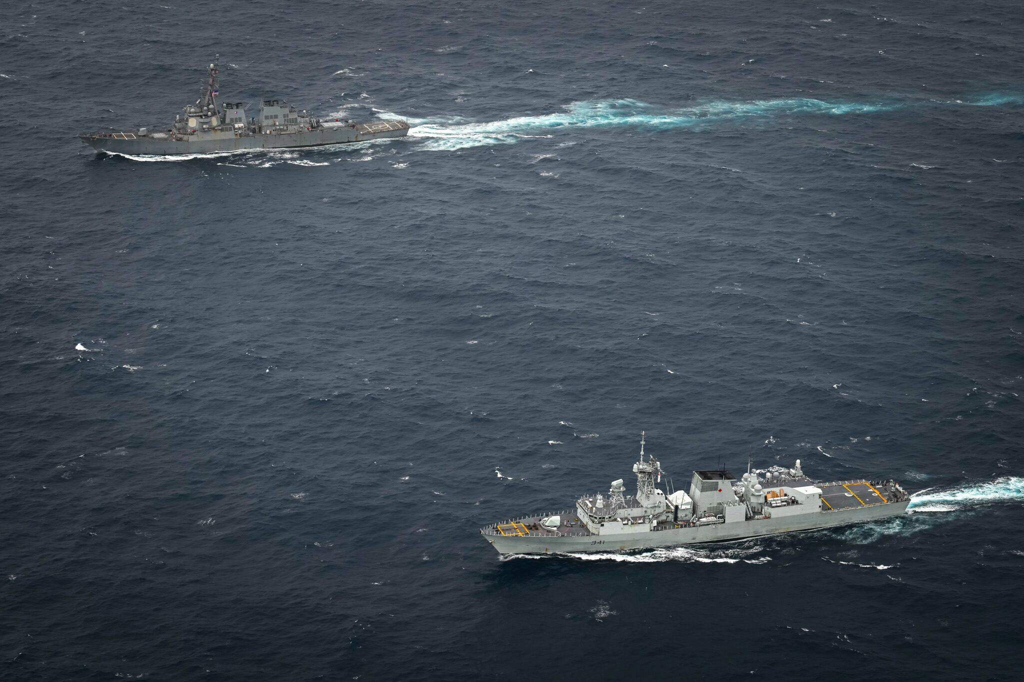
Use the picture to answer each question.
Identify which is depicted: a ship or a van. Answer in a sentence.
Visible in the photo is a ship.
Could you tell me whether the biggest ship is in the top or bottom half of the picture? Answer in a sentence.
The bottom half of the photo is where the biggest ship is.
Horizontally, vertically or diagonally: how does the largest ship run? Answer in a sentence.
Seen from above, the largest ship lies horizontally.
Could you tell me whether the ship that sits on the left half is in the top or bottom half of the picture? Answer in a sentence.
Seen from above, the ship that sits on the left half lies in the top half of the view.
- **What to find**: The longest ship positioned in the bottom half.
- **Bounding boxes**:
[481,431,911,553]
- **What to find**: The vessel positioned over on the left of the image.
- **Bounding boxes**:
[81,56,411,155]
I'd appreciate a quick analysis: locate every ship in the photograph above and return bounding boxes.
[81,56,411,155]
[481,431,911,553]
